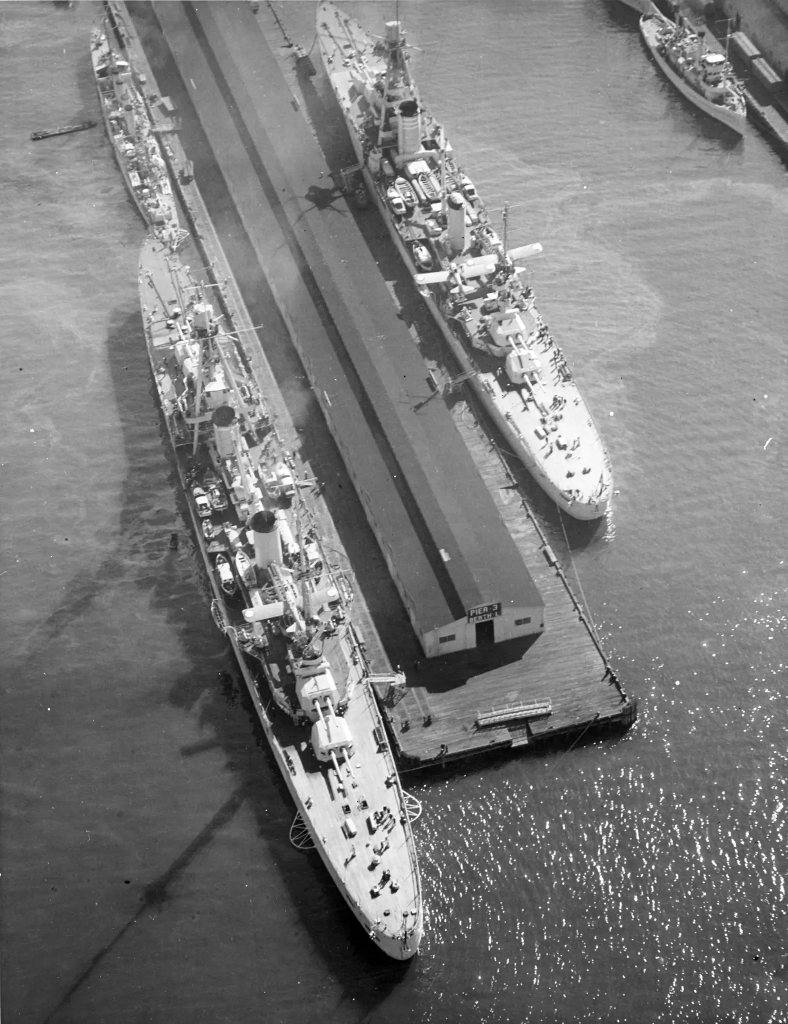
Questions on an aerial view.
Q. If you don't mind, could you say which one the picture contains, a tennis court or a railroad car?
railroad car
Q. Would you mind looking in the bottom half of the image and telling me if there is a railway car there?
No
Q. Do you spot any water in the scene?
Yes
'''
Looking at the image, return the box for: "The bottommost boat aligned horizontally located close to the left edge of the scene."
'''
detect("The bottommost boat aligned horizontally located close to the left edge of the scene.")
[31,121,93,143]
